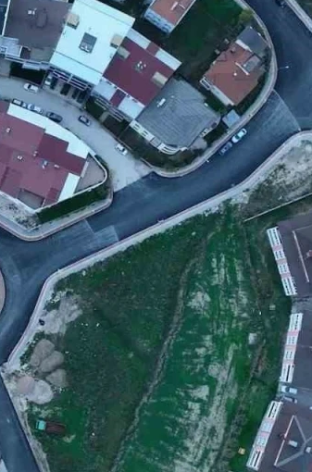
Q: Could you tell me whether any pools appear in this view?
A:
No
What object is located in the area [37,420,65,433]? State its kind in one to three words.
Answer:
vehicle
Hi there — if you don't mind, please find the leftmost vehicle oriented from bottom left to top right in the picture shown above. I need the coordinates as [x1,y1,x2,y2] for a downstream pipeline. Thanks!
[217,141,233,156]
